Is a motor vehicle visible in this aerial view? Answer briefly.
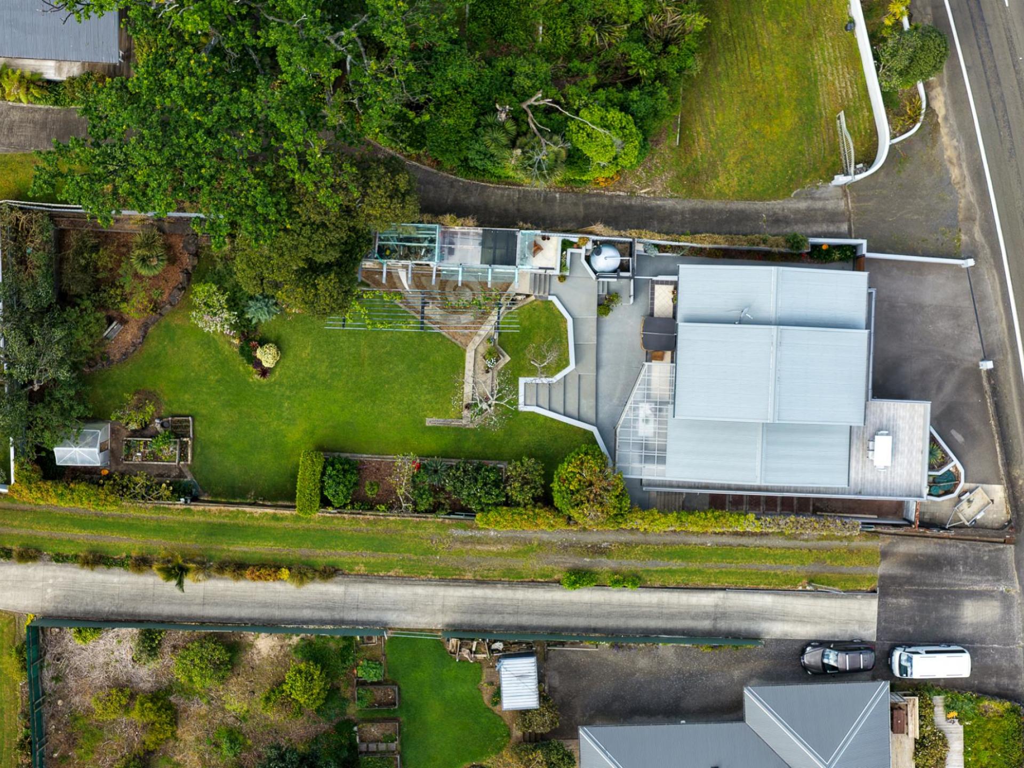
Yes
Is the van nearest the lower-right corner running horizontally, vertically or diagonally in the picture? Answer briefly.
horizontally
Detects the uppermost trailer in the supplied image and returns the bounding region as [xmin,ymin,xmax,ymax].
[946,487,996,530]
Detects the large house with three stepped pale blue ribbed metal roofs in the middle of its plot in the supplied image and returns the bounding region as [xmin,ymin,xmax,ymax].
[663,263,872,489]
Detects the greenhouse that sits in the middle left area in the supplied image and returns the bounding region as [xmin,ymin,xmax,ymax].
[53,428,111,466]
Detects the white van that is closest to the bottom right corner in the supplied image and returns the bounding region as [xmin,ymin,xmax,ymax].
[893,646,976,686]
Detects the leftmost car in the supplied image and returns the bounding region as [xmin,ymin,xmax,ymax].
[801,643,877,680]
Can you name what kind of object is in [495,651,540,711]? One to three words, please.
shed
